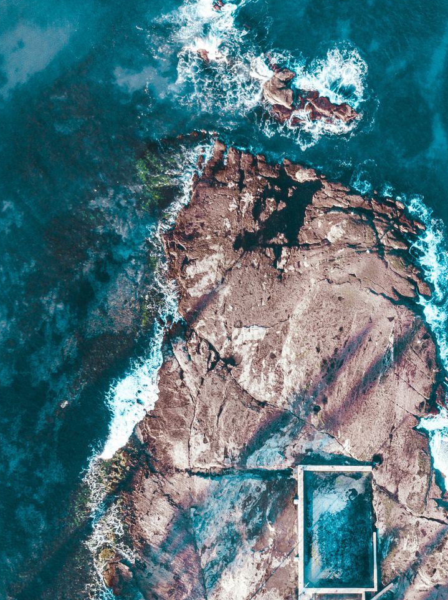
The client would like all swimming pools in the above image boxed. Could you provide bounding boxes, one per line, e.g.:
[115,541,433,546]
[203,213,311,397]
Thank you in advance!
[294,466,377,599]
[308,593,365,600]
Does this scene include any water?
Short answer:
Yes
